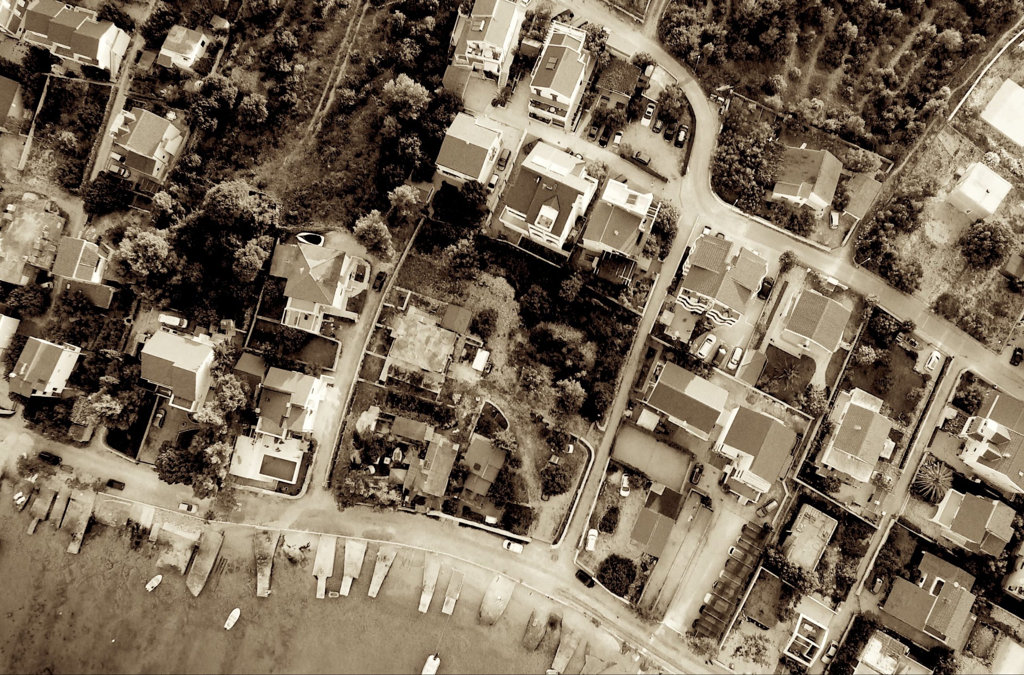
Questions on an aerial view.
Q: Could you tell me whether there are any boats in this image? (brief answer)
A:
Yes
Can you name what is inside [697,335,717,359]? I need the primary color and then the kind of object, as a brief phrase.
white car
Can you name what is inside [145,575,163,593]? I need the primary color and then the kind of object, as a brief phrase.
white boat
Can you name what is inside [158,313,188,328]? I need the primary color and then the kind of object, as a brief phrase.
white vehicle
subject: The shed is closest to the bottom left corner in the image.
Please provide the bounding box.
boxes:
[69,420,101,444]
